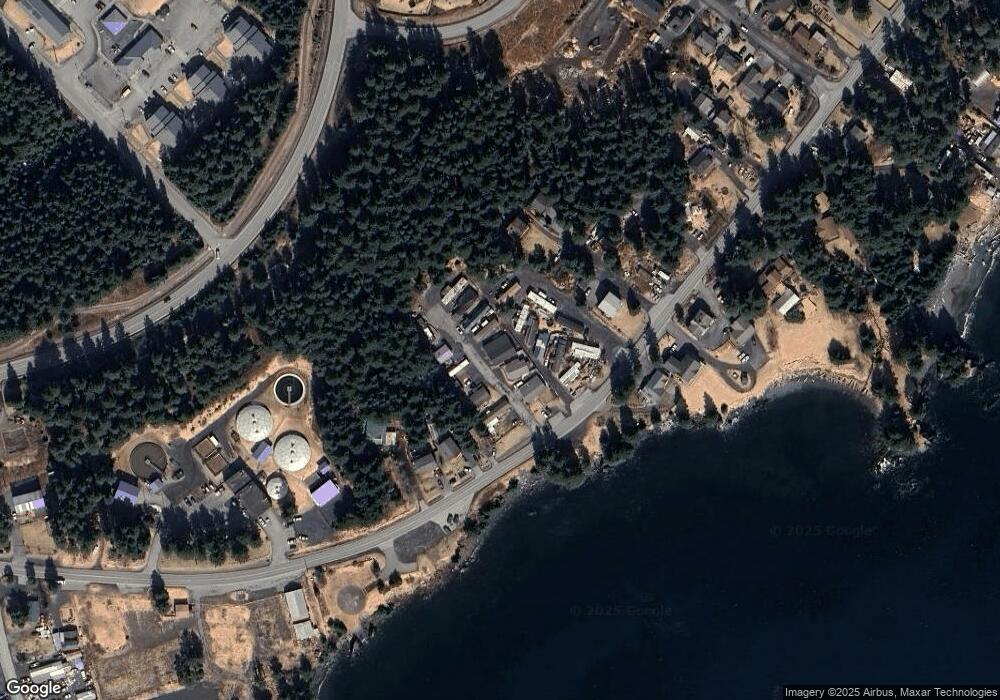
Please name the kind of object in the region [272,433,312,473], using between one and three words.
storage tank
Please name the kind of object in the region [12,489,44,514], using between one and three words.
building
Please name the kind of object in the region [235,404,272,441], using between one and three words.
storage tank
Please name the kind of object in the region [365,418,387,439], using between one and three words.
house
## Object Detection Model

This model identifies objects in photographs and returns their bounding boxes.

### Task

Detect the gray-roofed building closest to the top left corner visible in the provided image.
[16,0,70,42]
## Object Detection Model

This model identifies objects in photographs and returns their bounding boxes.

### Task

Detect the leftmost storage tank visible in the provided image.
[130,442,167,479]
